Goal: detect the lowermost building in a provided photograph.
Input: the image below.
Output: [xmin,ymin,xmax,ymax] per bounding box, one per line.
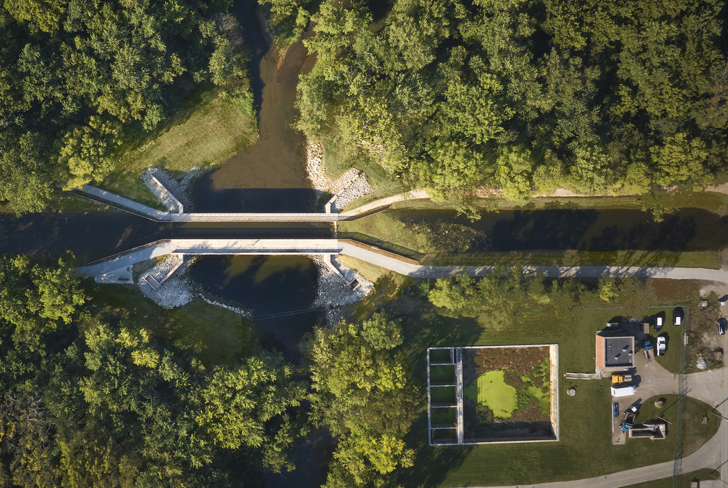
[595,334,634,371]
